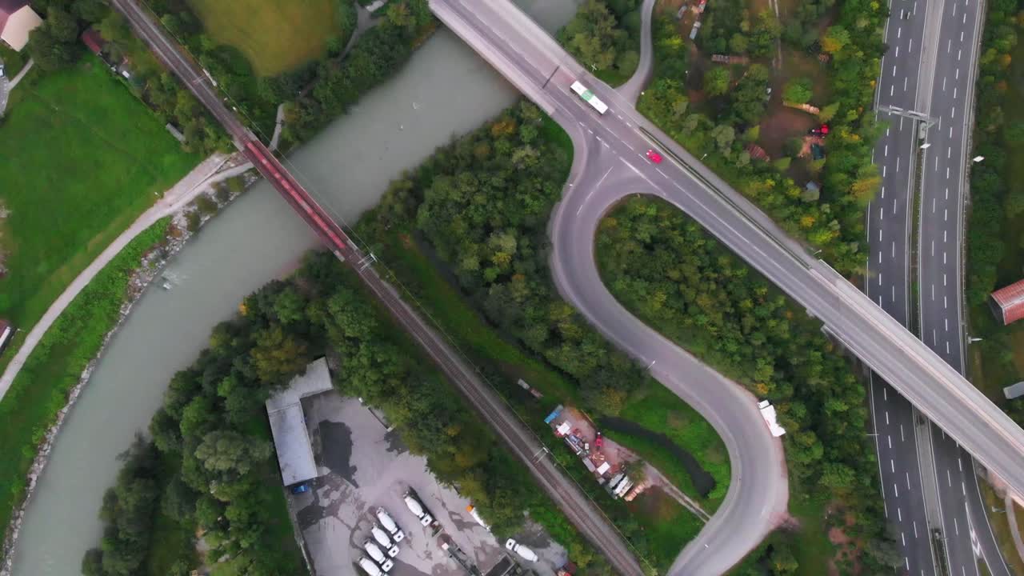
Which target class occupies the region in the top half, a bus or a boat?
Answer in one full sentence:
The one visible in the top half is a bus.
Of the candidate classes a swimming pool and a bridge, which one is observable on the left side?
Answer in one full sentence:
The feature located on the left side is a bridge.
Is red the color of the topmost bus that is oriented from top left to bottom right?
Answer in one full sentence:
No, the topmost bus that is oriented from top left to bottom right is actually white.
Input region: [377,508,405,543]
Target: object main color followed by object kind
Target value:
white truck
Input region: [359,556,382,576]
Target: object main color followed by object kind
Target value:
white vehicle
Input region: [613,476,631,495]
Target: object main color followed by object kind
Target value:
white vehicle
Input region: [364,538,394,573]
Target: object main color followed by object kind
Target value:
white truck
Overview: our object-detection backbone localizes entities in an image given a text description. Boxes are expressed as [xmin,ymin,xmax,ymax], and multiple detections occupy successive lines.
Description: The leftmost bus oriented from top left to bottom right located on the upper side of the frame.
[571,82,608,118]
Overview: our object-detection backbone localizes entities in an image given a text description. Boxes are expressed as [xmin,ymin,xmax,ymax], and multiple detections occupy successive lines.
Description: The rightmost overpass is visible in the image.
[782,259,1024,509]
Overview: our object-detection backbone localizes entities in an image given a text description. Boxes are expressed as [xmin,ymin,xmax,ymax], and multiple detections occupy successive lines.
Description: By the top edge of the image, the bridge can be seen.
[421,0,610,115]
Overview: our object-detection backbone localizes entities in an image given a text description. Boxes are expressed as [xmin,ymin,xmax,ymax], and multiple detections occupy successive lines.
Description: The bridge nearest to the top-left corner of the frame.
[231,127,362,265]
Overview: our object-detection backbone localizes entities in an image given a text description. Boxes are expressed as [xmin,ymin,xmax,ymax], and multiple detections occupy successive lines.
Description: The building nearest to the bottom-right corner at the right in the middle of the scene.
[988,279,1024,328]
